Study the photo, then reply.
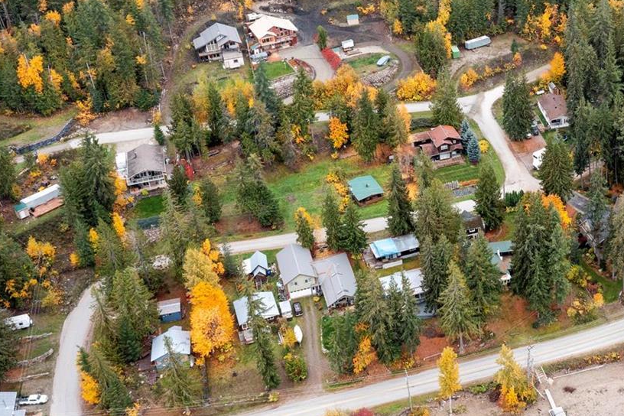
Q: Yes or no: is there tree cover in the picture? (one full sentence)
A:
Yes, tree cover can be seen from above here.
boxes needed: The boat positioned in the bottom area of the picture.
[289,318,302,339]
